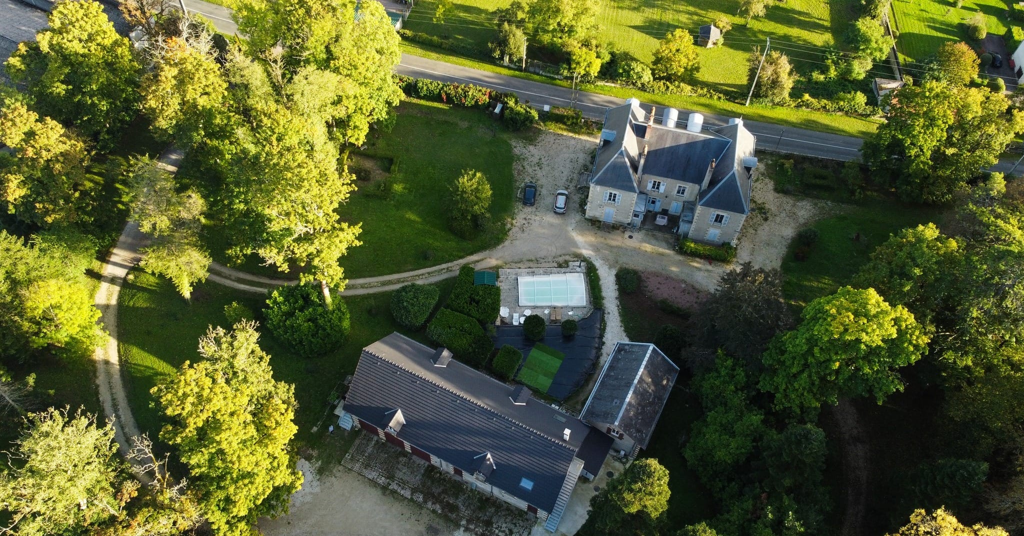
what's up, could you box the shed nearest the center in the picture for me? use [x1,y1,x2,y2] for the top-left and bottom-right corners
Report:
[474,264,496,286]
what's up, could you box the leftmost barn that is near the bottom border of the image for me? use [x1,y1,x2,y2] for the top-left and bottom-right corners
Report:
[334,331,593,535]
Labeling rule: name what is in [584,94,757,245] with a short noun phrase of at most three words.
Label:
house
